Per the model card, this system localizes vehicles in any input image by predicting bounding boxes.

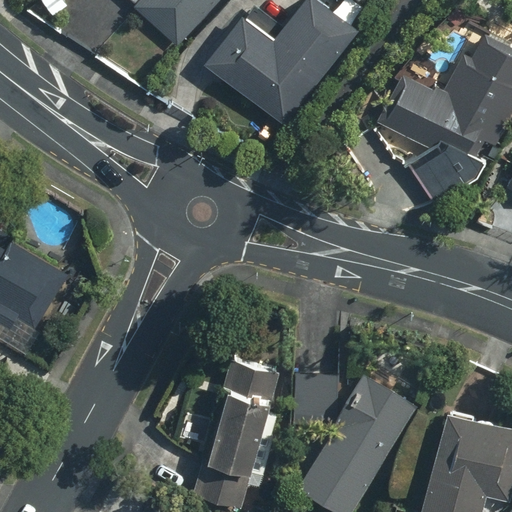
[154,464,185,488]
[92,160,122,188]
[18,502,34,512]
[258,0,288,24]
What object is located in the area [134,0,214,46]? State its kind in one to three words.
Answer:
house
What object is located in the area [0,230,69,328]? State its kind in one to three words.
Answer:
house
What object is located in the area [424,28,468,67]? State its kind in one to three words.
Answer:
swimming pool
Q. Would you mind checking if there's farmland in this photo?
No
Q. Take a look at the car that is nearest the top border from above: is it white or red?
red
